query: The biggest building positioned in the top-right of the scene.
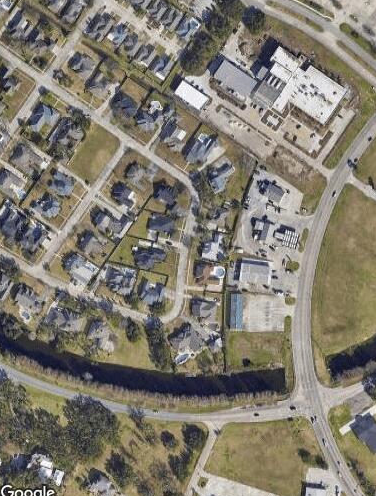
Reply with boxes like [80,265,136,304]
[272,65,346,125]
